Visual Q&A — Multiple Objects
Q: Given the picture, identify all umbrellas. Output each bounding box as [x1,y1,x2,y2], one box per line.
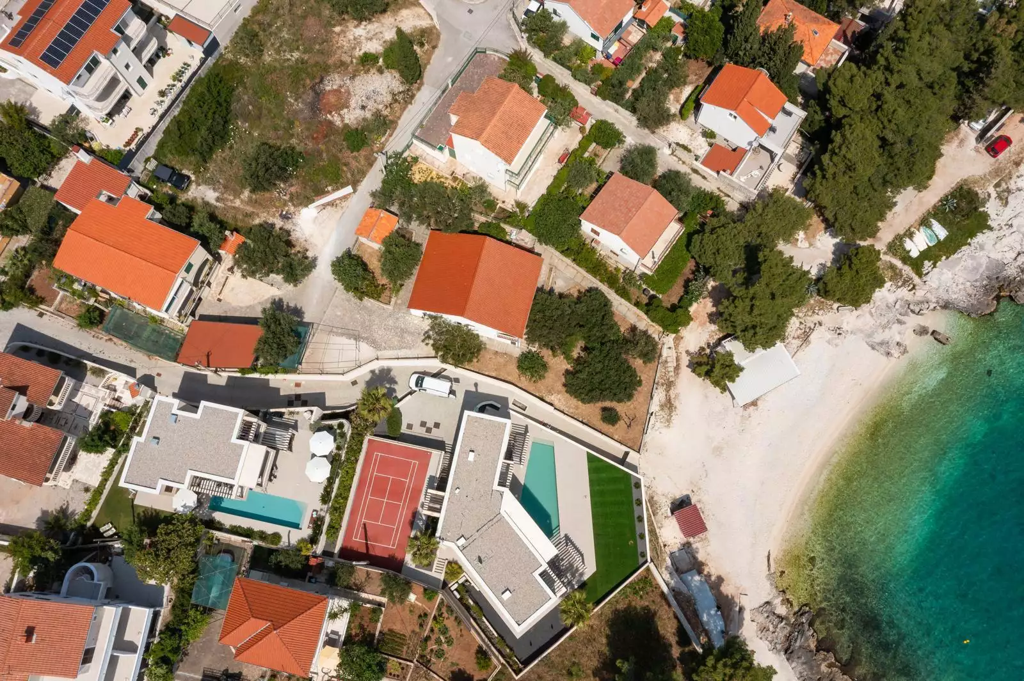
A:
[603,45,621,64]
[306,456,332,482]
[317,646,342,669]
[309,429,335,456]
[175,490,199,512]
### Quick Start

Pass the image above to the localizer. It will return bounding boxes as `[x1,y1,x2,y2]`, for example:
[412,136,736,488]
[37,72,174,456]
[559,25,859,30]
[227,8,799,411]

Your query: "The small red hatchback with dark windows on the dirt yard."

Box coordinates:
[982,134,1012,161]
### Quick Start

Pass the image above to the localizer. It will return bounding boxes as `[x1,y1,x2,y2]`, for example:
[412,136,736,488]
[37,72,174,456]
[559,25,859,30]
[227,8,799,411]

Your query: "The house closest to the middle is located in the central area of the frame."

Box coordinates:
[408,230,544,350]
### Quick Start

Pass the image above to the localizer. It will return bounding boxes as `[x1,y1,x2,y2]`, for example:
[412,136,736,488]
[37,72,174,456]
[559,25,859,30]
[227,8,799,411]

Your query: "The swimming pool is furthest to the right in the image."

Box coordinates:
[520,438,559,538]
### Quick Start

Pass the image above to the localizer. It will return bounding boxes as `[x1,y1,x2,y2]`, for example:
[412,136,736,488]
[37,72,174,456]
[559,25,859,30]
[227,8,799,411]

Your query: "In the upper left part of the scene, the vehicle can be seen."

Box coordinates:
[152,162,192,191]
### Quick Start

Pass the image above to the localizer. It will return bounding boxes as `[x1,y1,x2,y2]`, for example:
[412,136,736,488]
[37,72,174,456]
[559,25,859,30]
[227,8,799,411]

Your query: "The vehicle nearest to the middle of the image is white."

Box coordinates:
[413,375,452,399]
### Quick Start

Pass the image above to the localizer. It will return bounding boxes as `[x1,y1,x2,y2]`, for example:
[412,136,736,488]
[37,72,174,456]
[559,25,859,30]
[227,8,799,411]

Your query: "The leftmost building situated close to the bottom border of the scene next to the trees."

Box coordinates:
[0,560,162,681]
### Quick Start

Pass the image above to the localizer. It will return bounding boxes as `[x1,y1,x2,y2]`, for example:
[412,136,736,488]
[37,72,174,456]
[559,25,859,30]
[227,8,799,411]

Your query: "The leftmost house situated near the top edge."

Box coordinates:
[0,0,162,122]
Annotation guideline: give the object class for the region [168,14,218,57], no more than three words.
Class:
building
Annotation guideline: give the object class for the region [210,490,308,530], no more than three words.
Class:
swimming pool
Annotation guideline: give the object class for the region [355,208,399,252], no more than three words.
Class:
shed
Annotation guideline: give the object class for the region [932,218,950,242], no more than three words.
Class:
boat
